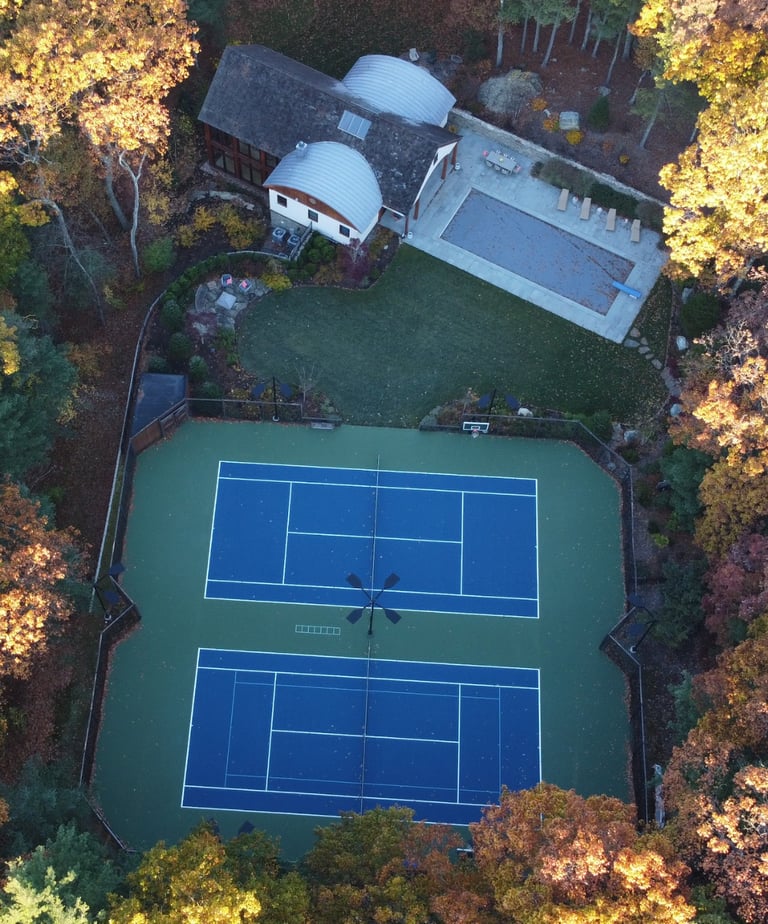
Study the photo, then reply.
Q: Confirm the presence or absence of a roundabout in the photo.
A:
No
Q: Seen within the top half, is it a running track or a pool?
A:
pool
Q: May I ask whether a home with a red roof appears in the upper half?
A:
No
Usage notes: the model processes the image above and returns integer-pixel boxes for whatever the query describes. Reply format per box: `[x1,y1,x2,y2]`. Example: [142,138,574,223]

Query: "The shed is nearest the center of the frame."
[130,373,190,457]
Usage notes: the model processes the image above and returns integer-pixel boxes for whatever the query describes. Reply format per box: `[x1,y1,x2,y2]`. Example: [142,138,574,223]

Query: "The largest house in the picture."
[199,45,462,248]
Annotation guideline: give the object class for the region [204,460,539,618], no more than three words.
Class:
tennis court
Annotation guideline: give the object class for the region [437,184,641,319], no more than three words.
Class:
swimming pool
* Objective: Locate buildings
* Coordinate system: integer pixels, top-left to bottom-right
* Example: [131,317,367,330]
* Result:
[199,45,462,248]
[130,373,190,457]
